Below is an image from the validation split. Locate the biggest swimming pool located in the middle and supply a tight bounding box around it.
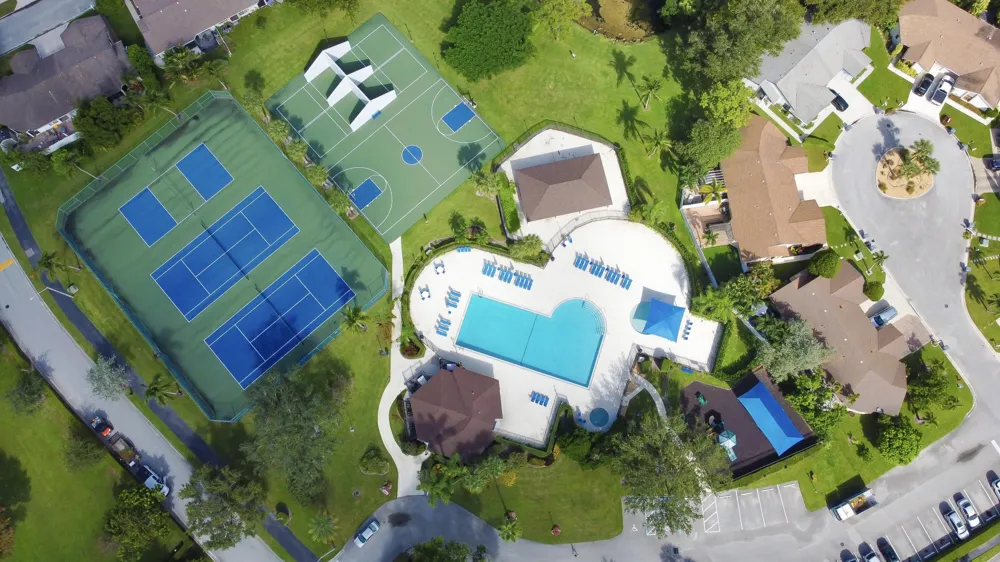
[454,292,606,389]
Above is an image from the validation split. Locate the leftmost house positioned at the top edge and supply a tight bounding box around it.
[0,16,127,152]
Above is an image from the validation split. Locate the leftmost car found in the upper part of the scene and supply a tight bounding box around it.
[830,85,852,112]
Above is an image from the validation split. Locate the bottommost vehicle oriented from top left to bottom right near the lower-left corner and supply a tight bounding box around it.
[133,466,167,496]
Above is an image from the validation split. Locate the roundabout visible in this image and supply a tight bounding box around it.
[875,146,937,199]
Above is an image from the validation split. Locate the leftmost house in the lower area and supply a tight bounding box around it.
[410,366,503,458]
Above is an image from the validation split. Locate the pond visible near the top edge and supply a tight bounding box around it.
[576,0,675,43]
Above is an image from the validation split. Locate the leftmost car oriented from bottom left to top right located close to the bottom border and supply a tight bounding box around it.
[352,519,381,548]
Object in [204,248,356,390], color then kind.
blue tennis court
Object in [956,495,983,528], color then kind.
white car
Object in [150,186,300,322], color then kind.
blue tennis court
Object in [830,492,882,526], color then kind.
white truck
